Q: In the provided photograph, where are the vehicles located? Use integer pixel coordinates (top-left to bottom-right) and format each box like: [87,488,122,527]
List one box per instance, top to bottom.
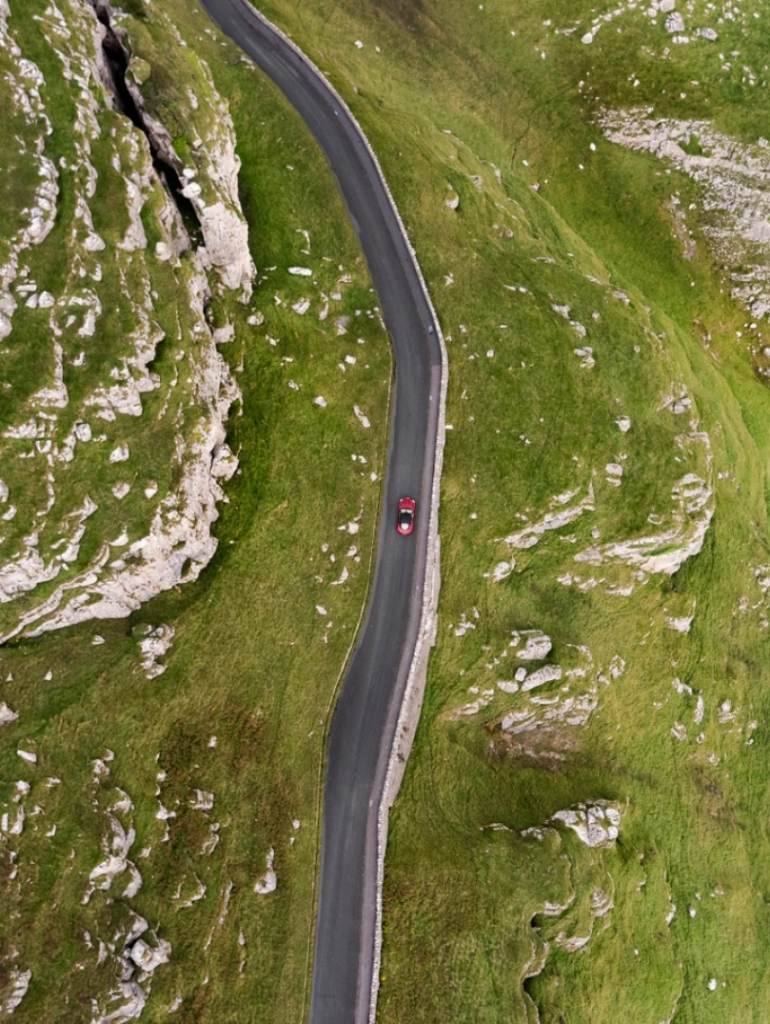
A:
[397,496,416,536]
